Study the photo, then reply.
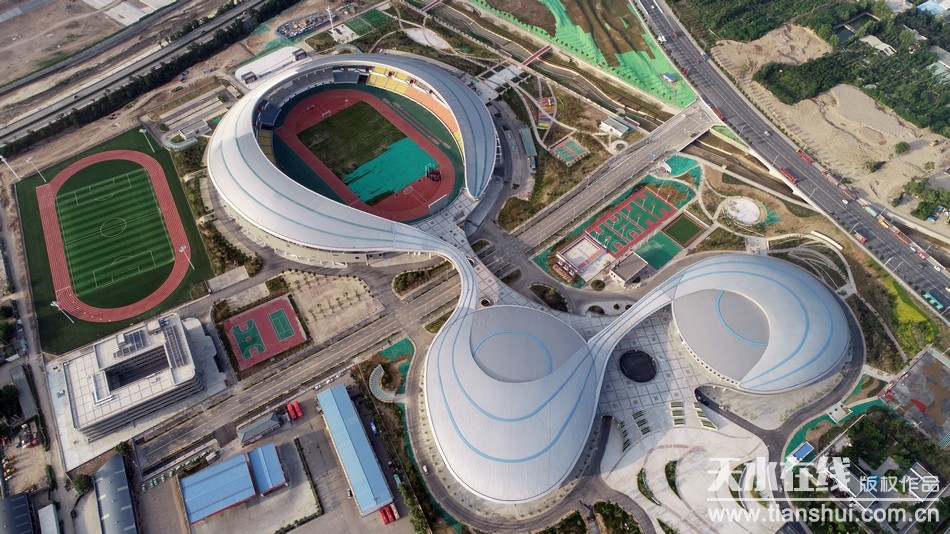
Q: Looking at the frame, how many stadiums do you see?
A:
2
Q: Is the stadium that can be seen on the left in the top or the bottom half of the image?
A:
top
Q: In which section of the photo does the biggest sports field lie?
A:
left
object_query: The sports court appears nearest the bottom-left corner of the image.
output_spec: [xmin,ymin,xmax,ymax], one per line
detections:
[216,292,307,368]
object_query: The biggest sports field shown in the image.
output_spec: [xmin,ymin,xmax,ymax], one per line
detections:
[14,130,215,354]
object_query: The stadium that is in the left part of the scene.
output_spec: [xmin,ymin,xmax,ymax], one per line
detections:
[207,52,500,310]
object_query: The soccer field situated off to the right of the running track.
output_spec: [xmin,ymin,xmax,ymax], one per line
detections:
[662,208,710,248]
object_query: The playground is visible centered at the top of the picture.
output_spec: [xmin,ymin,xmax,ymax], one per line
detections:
[537,97,556,129]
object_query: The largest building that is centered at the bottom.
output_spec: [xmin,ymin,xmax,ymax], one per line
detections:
[424,304,621,504]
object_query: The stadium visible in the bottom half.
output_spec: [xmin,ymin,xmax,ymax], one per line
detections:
[620,252,852,395]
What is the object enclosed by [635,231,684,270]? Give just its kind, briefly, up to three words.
tennis court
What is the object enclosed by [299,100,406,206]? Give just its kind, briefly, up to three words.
sports field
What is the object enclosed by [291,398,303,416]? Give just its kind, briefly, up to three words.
vehicle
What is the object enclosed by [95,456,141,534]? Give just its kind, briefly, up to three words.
building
